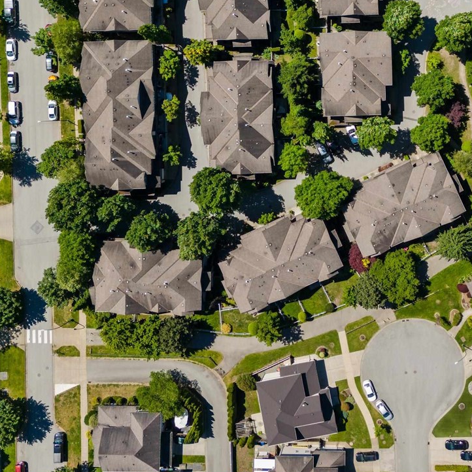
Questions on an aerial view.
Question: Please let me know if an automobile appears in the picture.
Yes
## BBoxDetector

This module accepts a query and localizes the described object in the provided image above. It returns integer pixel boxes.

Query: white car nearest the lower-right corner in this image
[376,397,392,420]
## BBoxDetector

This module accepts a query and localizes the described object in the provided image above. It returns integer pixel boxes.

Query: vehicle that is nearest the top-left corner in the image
[4,0,17,26]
